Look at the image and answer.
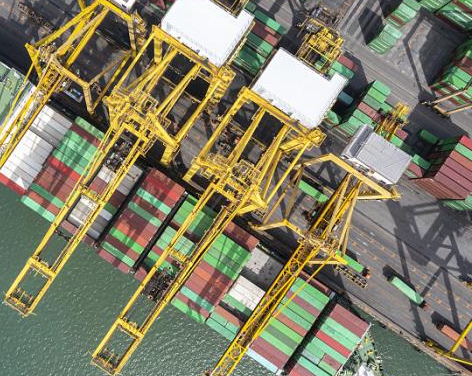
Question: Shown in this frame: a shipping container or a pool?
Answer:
shipping container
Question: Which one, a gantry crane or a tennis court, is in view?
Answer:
gantry crane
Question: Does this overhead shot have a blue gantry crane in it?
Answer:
No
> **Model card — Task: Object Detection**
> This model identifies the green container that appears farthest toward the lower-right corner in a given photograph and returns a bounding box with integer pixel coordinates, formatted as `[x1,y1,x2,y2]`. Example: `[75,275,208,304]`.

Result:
[387,274,422,303]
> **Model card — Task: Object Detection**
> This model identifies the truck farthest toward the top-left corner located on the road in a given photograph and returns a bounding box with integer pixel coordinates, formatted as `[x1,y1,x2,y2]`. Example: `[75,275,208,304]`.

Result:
[19,0,56,30]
